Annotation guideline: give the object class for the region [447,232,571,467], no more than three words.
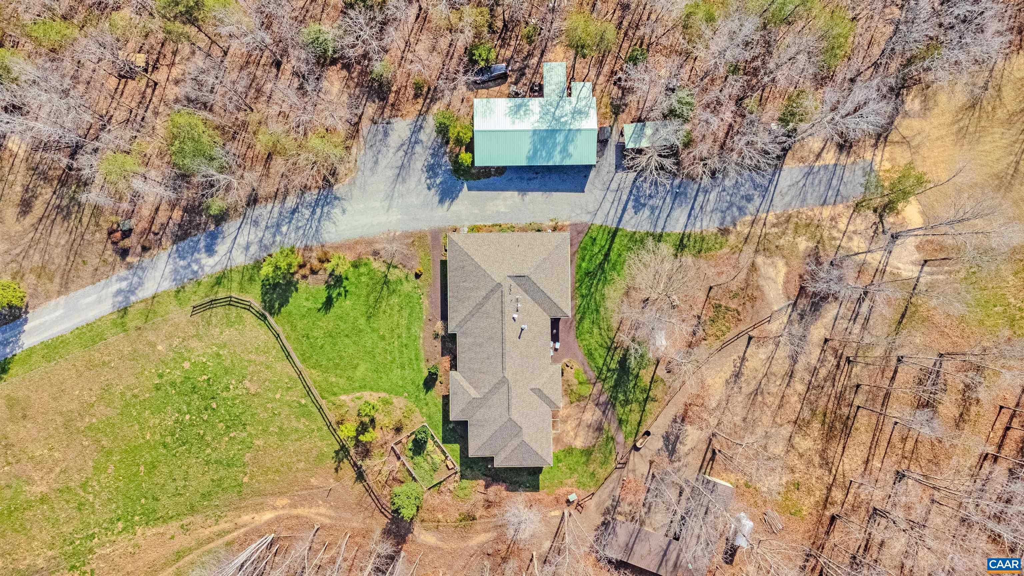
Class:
house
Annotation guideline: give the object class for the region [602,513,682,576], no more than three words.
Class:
barn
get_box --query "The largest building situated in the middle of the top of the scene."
[473,98,598,169]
